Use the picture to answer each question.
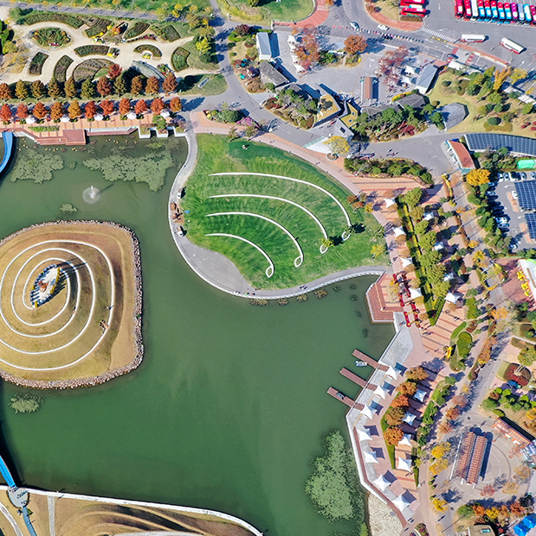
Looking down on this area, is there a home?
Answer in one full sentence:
Yes, the picture does show a home.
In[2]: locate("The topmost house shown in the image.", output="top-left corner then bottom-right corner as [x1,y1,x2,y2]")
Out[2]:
[255,30,271,62]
